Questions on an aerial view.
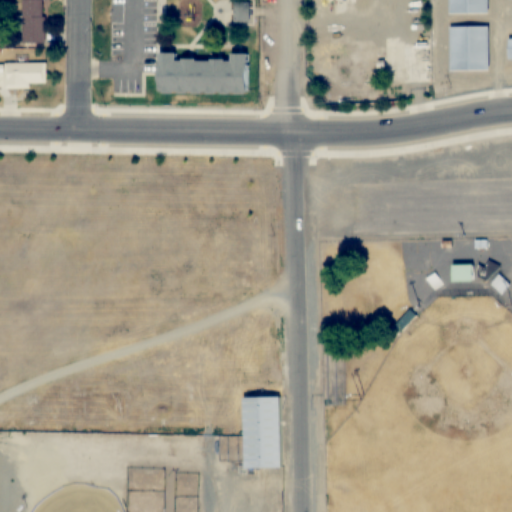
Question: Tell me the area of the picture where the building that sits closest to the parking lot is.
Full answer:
You can find the building that sits closest to the parking lot in the top area of the picture.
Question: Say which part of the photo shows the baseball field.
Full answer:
You can find the baseball field in the bottom right area of the picture.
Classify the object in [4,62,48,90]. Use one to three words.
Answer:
house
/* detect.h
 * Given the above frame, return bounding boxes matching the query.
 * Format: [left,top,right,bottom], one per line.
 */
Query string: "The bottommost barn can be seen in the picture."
[243,396,282,468]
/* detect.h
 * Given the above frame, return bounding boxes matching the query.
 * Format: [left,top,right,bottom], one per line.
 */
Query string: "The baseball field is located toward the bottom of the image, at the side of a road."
[318,239,512,512]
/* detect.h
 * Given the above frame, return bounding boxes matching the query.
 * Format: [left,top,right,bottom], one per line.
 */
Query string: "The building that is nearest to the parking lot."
[156,52,252,95]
